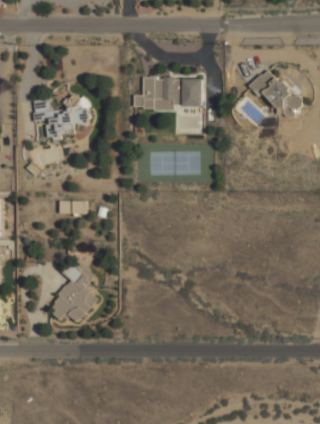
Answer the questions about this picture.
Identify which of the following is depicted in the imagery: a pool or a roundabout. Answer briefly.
pool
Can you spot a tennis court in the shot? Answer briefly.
Yes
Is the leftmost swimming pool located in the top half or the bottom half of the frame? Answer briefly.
top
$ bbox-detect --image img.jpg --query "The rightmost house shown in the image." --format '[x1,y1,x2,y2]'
[248,70,302,118]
